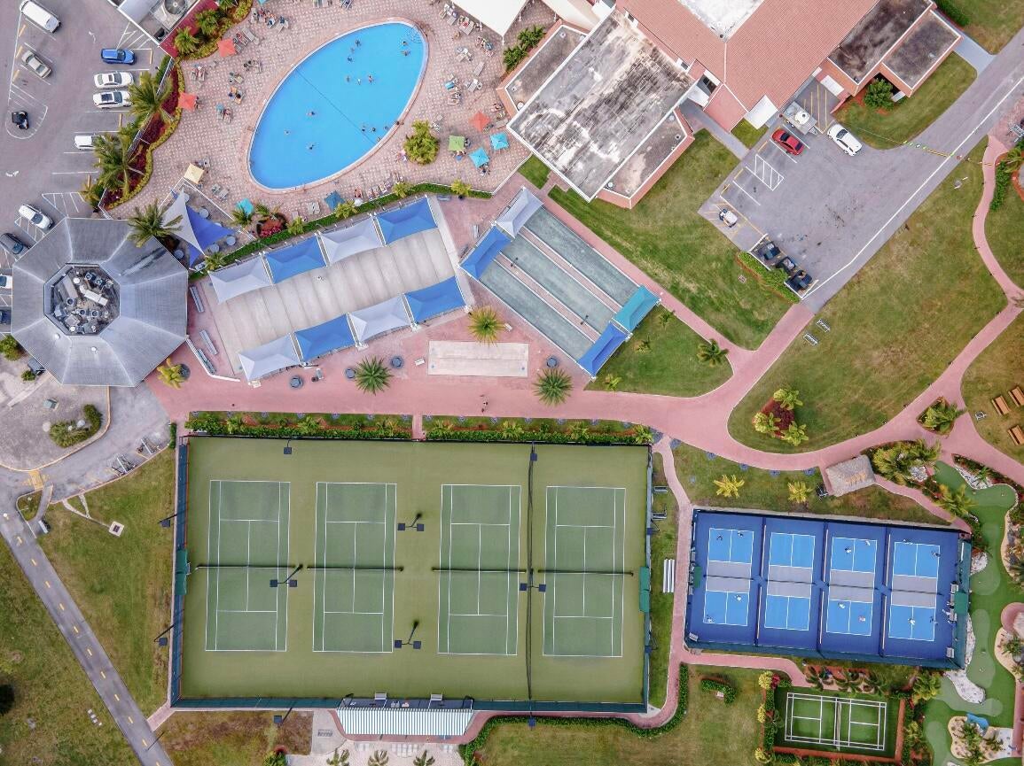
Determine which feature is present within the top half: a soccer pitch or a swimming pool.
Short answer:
swimming pool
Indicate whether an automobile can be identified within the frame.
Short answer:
Yes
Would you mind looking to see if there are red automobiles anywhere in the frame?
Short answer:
Yes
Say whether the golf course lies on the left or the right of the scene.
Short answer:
right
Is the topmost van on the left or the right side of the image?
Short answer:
left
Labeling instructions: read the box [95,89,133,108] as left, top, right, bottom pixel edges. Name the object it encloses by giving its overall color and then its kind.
white car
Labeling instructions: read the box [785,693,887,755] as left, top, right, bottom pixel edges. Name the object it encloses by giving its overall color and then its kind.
green sports court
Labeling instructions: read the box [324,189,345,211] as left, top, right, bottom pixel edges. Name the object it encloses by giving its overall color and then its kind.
blue umbrella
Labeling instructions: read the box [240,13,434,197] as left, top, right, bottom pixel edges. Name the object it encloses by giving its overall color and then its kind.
blue swimming pool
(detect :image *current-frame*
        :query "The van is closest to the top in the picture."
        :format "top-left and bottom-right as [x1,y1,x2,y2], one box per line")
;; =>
[13,0,69,40]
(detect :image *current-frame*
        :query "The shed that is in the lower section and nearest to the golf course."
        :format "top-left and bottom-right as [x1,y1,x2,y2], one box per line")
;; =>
[821,455,874,497]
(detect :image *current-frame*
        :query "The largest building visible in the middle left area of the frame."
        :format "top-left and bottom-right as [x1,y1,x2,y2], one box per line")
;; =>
[10,217,189,387]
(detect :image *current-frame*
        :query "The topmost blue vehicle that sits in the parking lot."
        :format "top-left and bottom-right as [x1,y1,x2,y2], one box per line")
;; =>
[100,46,137,66]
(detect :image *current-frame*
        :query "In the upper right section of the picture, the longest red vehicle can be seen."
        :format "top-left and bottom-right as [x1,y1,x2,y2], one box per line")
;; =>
[769,127,805,157]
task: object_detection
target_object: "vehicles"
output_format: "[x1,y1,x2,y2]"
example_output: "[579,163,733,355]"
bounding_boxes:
[788,272,810,291]
[20,50,56,80]
[74,132,111,150]
[0,273,11,290]
[0,229,31,257]
[825,124,862,155]
[0,310,10,324]
[28,359,45,373]
[13,0,69,40]
[100,46,137,66]
[95,89,133,108]
[11,108,31,130]
[18,201,55,232]
[97,70,134,88]
[776,254,798,272]
[757,244,777,262]
[718,211,738,226]
[769,127,805,157]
